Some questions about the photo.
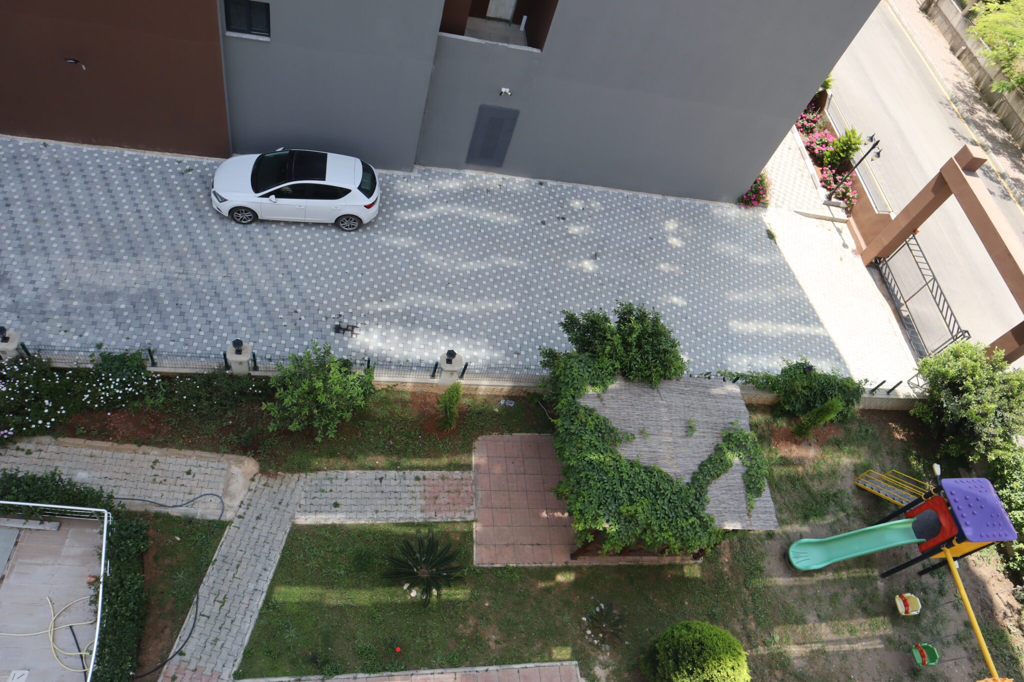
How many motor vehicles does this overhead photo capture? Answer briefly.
1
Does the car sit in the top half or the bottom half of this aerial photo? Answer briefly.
top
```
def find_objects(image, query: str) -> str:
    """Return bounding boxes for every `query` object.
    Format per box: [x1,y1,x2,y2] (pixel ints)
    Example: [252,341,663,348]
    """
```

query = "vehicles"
[211,145,381,232]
